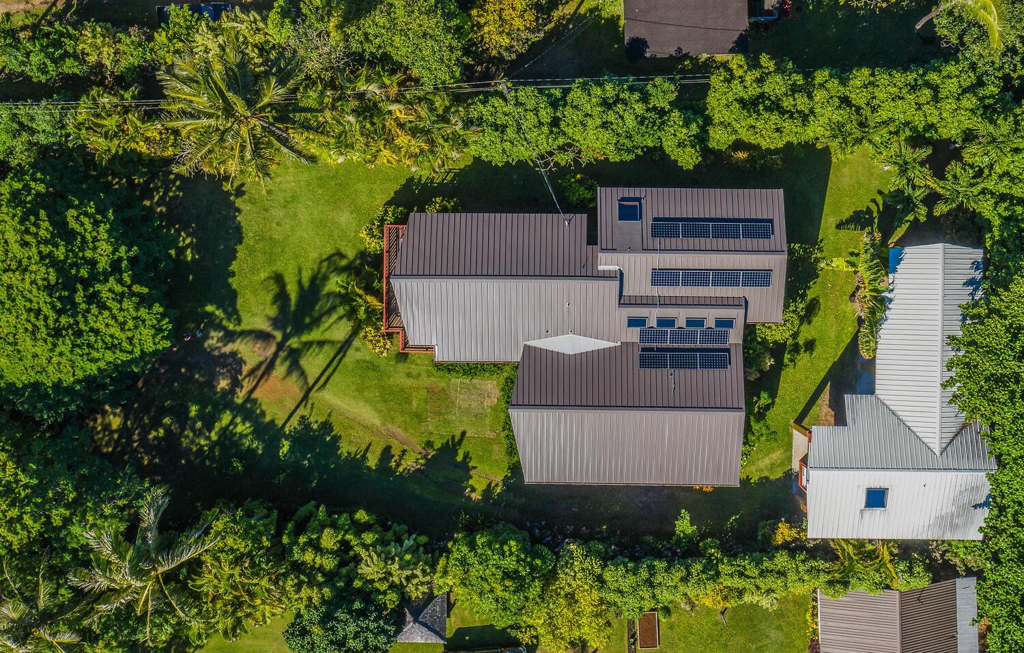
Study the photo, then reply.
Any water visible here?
No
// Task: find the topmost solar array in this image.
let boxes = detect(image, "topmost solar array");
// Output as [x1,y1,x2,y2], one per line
[651,222,772,239]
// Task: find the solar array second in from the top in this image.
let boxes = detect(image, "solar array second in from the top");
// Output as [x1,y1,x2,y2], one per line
[650,270,772,287]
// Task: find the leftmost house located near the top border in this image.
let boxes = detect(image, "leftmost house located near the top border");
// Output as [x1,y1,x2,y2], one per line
[623,0,752,59]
